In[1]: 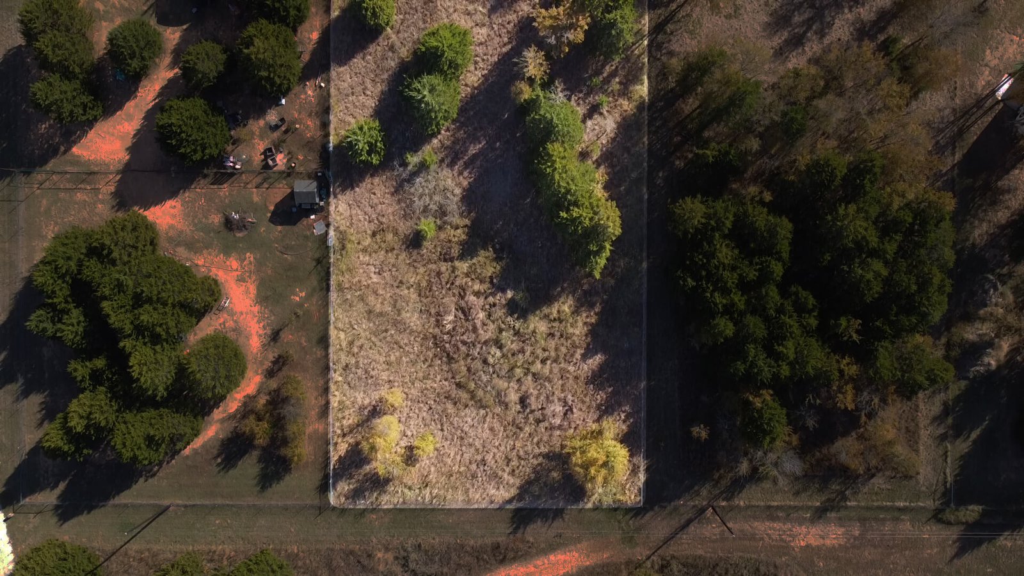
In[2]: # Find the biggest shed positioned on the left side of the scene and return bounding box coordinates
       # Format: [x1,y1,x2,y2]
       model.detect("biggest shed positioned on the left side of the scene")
[293,181,322,205]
